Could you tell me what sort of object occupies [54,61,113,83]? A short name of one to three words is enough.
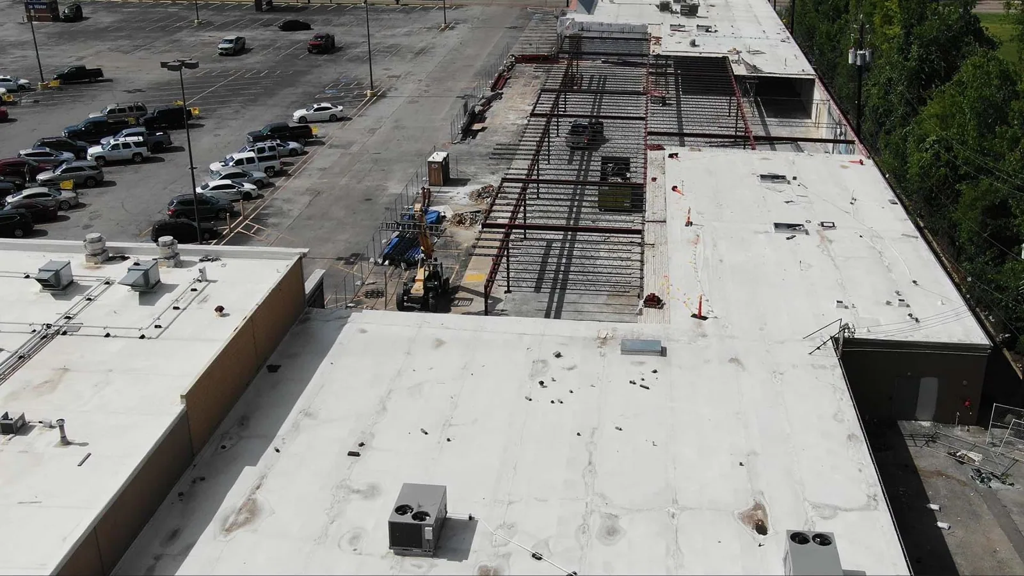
truck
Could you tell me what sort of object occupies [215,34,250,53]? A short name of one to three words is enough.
vehicle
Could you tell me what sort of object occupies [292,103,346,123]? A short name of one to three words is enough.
car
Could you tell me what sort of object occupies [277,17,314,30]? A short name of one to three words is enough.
vehicle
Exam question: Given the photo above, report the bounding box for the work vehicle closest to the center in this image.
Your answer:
[400,199,450,306]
